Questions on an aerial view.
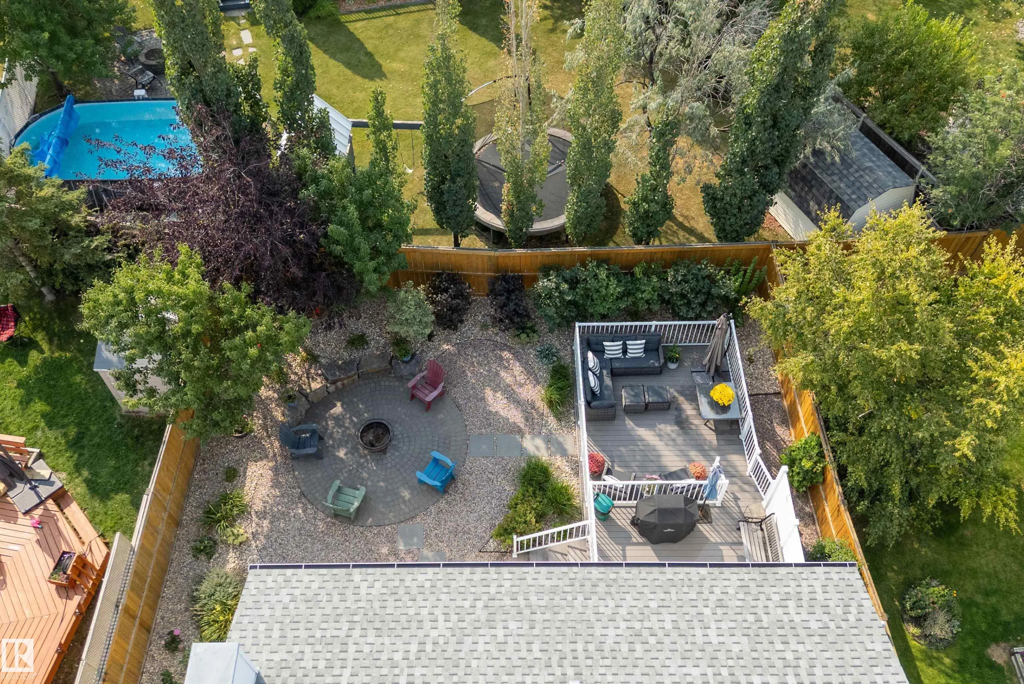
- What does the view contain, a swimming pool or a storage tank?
swimming pool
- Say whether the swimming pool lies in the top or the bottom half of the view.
top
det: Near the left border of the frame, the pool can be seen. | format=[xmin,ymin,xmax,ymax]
[6,96,235,213]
